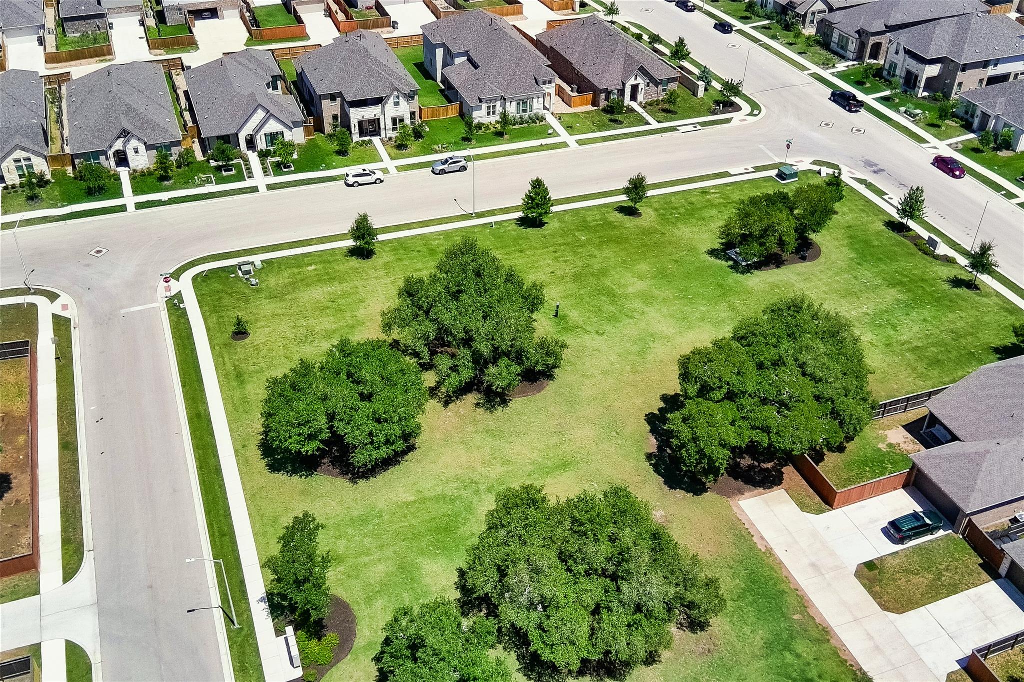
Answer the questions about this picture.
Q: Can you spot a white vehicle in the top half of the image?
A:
Yes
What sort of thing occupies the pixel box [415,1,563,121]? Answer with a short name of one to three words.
house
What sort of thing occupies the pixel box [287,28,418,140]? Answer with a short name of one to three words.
house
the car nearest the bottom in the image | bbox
[885,512,943,548]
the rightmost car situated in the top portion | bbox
[931,152,967,176]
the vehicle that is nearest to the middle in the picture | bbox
[431,154,471,175]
